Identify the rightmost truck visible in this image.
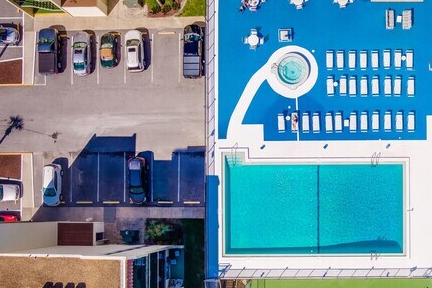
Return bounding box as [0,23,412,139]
[180,23,202,80]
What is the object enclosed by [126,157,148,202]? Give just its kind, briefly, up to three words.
car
